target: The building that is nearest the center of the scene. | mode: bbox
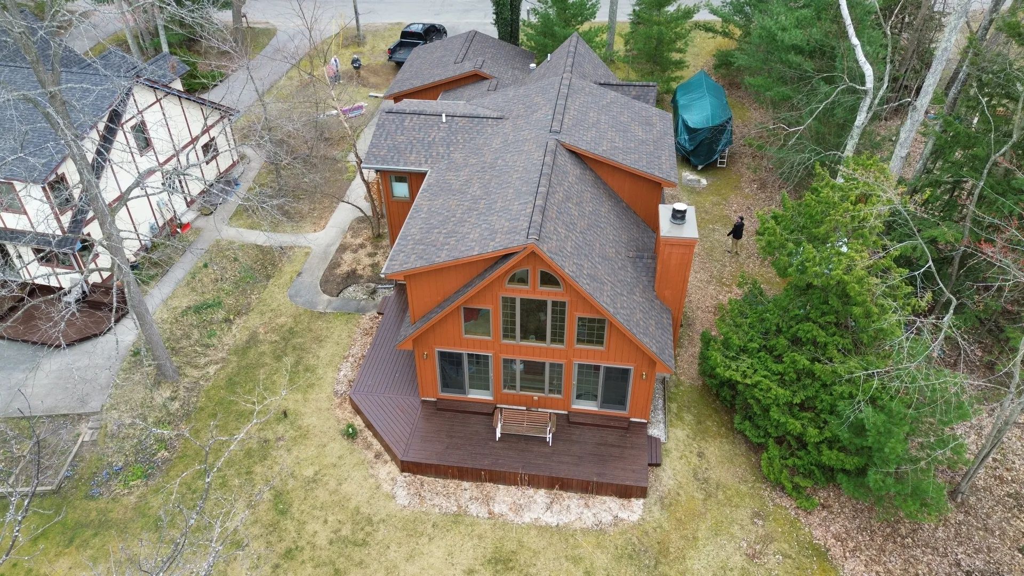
[360,23,696,422]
